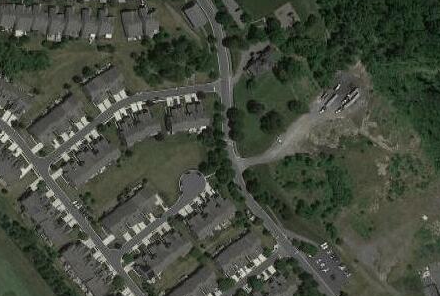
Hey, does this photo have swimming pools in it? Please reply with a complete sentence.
No, there is no swimming pool in the image.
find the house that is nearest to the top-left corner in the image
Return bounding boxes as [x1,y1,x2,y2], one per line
[0,2,16,28]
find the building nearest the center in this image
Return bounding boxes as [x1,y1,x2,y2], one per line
[167,104,211,133]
